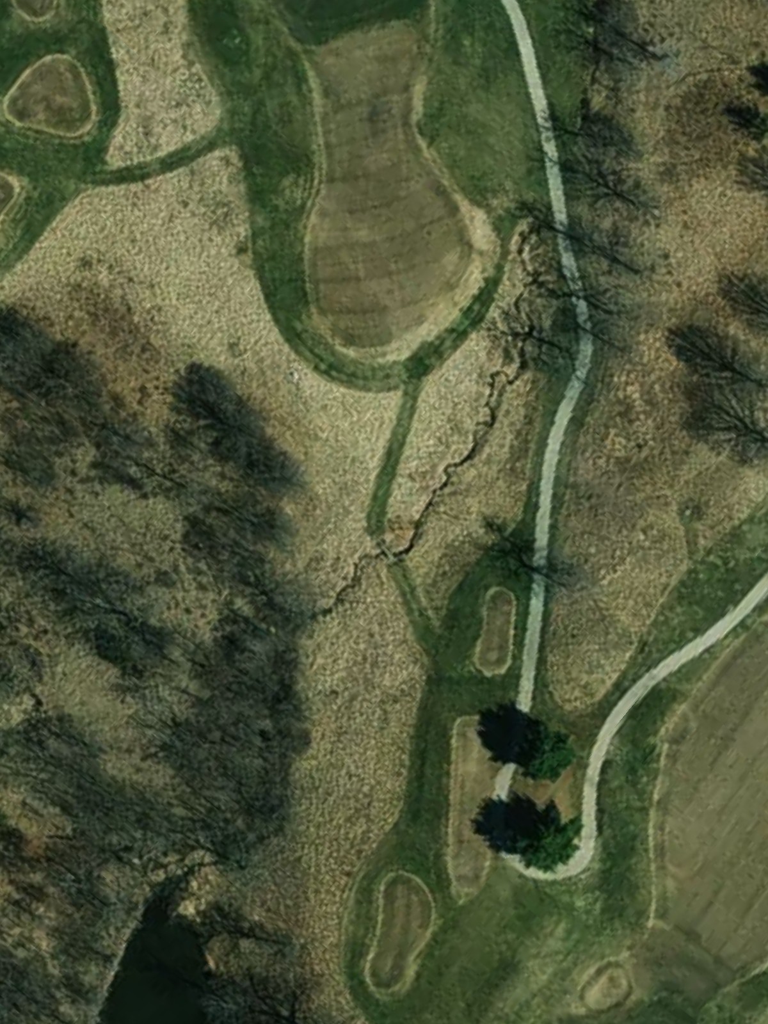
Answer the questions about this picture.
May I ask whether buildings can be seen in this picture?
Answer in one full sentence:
No, there's no building here.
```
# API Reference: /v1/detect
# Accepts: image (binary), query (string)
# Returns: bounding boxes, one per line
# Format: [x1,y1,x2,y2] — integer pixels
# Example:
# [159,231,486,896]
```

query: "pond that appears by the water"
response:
[95,860,210,1024]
